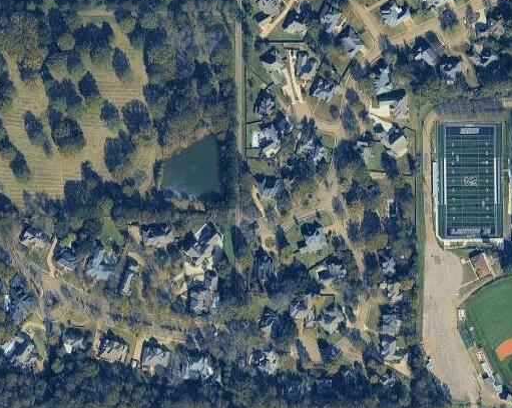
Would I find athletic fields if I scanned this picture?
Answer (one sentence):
Yes, the frame does contain an athletic field.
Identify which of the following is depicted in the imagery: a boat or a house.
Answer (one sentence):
This aerial view contains a house.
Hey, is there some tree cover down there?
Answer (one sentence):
Yes, the picture does contain tree cover.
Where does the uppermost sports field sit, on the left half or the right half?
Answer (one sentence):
The uppermost sports field sits on the right side.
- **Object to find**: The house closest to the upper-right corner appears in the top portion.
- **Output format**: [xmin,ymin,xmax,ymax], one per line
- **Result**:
[479,14,510,39]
